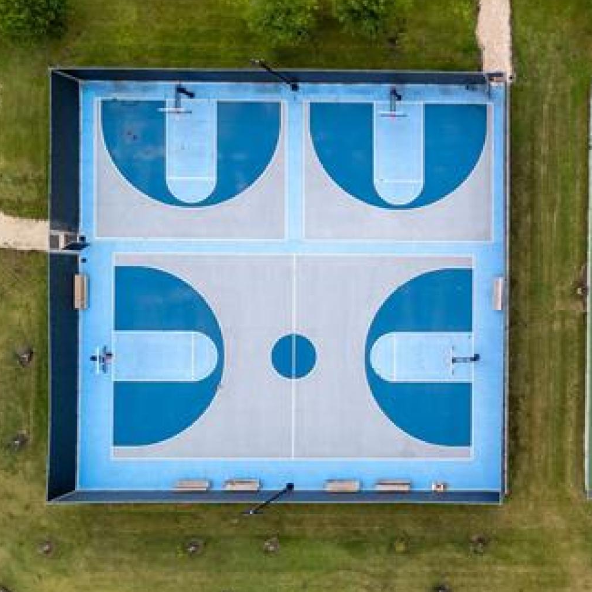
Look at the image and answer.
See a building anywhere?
No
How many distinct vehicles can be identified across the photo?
0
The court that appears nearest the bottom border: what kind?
basketball court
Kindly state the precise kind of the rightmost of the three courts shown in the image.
basketball court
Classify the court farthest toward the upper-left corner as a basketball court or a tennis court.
basketball court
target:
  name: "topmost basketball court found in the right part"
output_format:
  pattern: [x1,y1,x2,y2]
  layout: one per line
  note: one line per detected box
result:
[302,100,493,242]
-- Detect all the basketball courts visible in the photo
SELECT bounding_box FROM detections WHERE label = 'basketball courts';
[94,98,286,240]
[302,100,493,242]
[110,253,474,460]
